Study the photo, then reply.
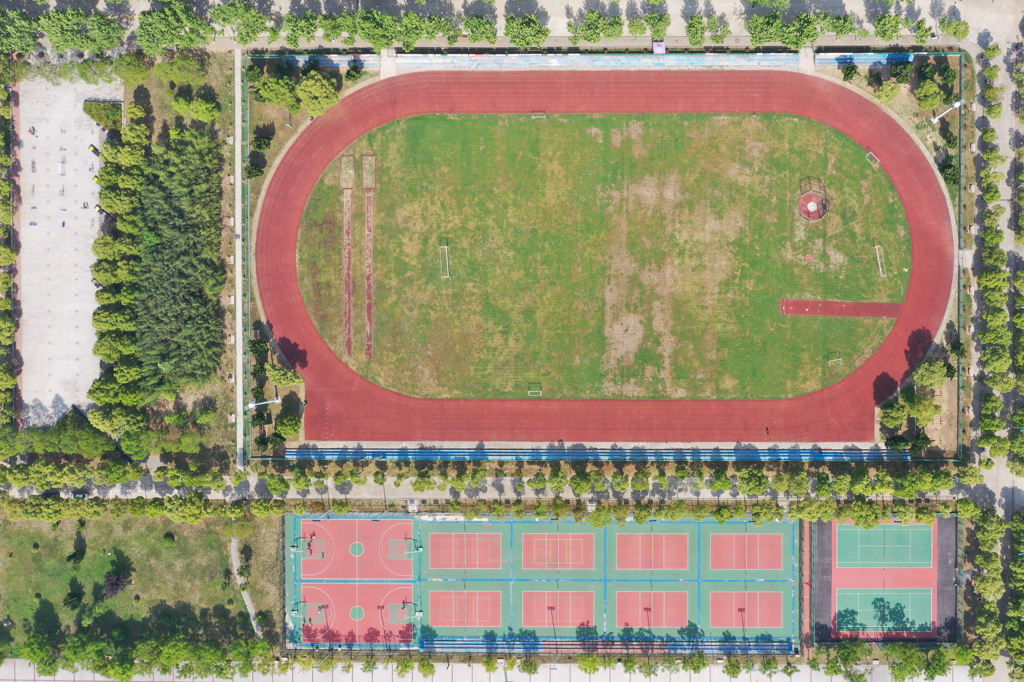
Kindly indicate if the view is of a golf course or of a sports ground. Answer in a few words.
sports ground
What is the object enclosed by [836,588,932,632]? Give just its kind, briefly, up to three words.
tennis court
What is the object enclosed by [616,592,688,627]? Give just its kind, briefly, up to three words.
sports court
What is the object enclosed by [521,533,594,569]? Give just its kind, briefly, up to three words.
sports court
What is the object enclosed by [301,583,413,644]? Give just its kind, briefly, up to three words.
basketball court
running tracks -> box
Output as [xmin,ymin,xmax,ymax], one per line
[250,66,960,449]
